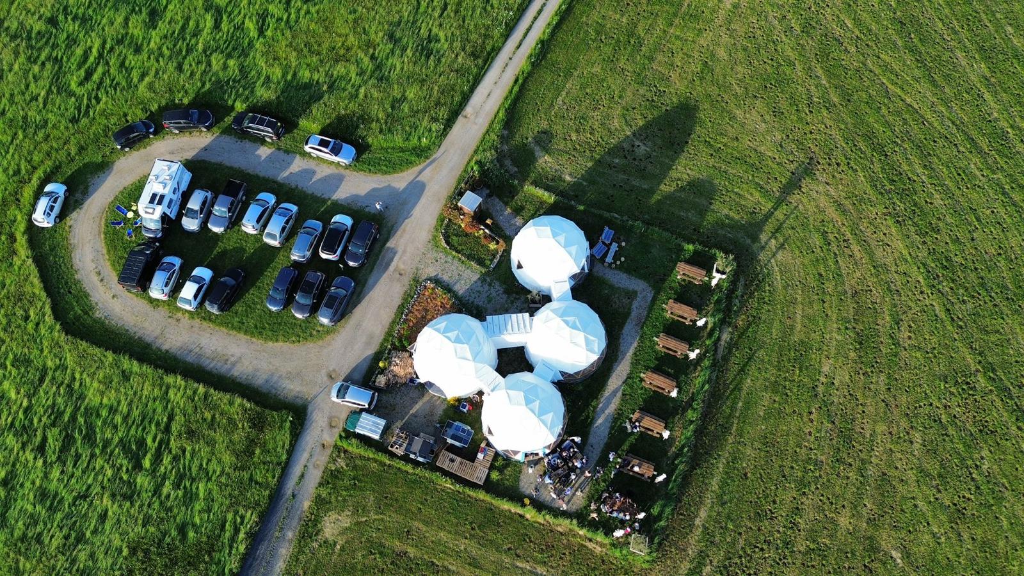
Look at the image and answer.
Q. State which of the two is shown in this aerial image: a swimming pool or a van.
van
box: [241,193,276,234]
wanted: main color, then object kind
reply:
blue car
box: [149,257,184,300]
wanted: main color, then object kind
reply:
blue car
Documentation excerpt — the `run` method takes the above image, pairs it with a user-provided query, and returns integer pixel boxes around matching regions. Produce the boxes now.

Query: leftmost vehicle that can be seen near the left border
[29,185,68,228]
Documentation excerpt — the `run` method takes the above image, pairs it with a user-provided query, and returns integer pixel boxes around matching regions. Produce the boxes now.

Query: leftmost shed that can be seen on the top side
[458,190,483,223]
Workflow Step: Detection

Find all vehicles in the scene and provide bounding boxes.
[241,193,276,234]
[232,111,286,142]
[266,266,301,311]
[29,185,68,228]
[302,130,358,166]
[319,215,353,260]
[317,277,354,325]
[182,189,215,232]
[114,241,162,292]
[332,380,378,411]
[345,220,378,267]
[289,220,323,263]
[263,204,298,248]
[149,257,184,300]
[177,267,214,312]
[139,159,194,241]
[207,178,249,233]
[162,107,216,134]
[292,269,327,318]
[203,268,246,315]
